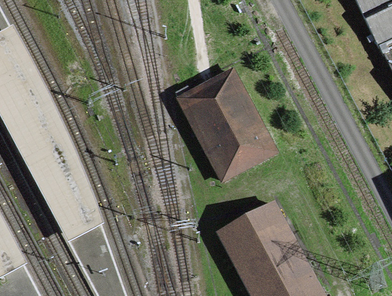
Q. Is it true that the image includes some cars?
No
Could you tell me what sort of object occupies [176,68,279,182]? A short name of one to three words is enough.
house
